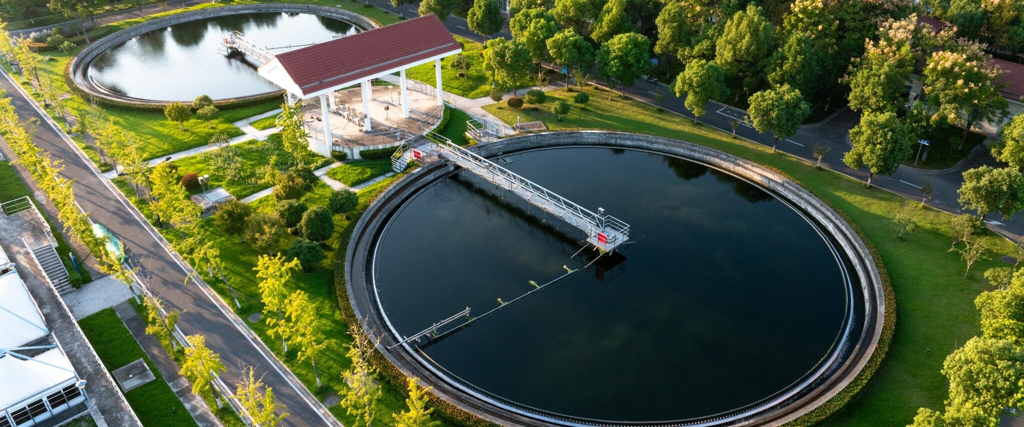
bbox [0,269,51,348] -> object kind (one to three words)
building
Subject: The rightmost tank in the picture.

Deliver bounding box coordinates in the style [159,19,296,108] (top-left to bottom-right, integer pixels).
[344,130,884,427]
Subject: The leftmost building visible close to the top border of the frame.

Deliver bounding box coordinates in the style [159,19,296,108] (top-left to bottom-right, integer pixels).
[255,14,462,155]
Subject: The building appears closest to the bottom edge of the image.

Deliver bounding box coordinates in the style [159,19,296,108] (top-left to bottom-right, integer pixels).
[0,336,91,427]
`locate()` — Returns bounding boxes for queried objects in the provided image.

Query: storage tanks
[344,130,884,427]
[70,3,383,105]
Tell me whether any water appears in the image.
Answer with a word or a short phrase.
Yes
